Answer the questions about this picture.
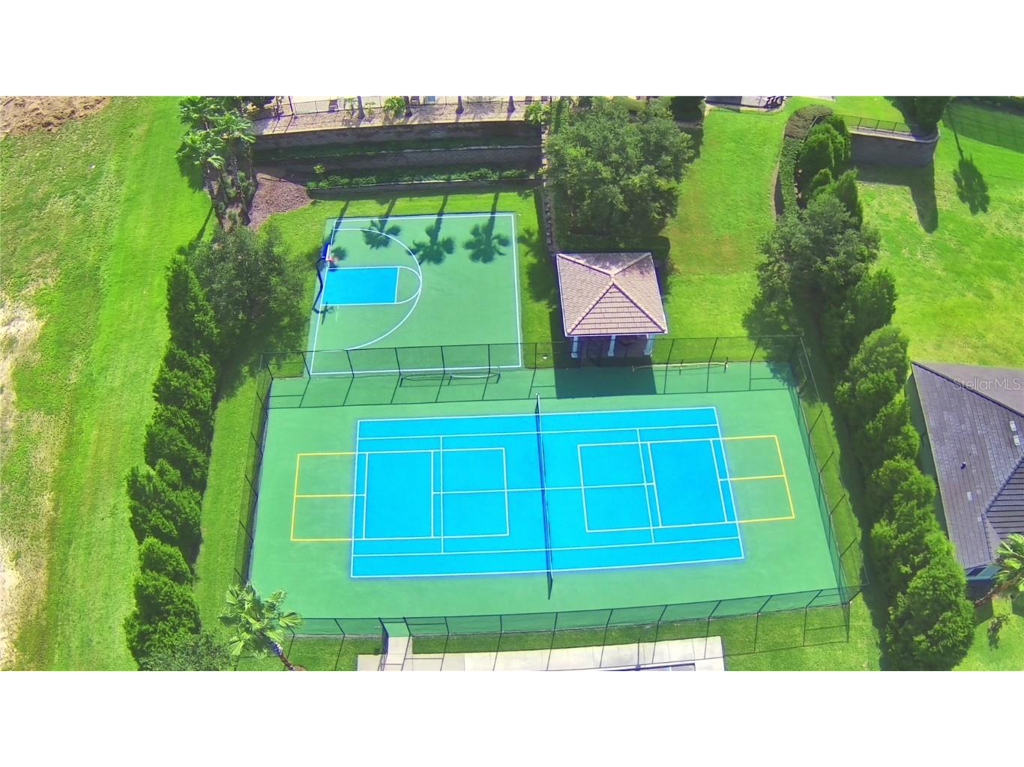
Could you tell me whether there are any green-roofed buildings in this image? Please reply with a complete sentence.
No, the picture doesn't show any green-roofed building.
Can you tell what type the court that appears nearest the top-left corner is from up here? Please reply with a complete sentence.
It looks like the court that appears nearest the top-left corner is a basketball court.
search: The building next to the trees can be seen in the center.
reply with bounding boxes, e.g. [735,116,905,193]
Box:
[556,251,668,364]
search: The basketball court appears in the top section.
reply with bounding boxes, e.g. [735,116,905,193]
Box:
[304,212,523,376]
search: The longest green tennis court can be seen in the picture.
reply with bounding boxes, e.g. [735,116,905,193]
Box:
[242,361,853,639]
